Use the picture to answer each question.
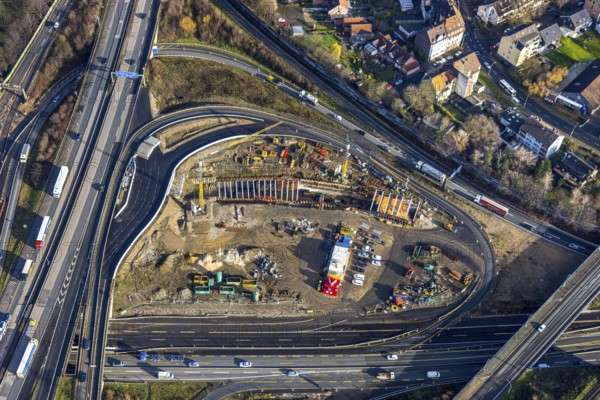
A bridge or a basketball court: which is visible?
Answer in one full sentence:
I can see a bridge in this picture.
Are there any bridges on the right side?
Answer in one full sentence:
Yes, a bridge is visible on the right side.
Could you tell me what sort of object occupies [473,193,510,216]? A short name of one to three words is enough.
truck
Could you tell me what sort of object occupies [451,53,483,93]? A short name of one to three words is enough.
house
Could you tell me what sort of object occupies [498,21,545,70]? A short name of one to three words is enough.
building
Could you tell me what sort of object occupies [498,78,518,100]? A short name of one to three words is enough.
vehicle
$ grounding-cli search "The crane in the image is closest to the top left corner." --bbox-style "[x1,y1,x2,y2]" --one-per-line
[178,121,283,217]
